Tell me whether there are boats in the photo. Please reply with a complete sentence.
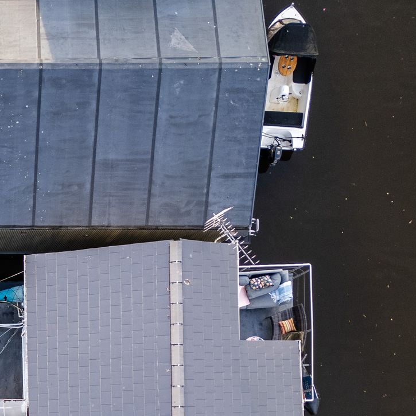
Yes, there is a boat in the image.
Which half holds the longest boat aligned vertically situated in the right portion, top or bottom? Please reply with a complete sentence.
It is in the top half that the longest boat aligned vertically situated in the right portion appears.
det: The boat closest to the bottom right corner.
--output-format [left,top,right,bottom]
[305,367,318,415]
